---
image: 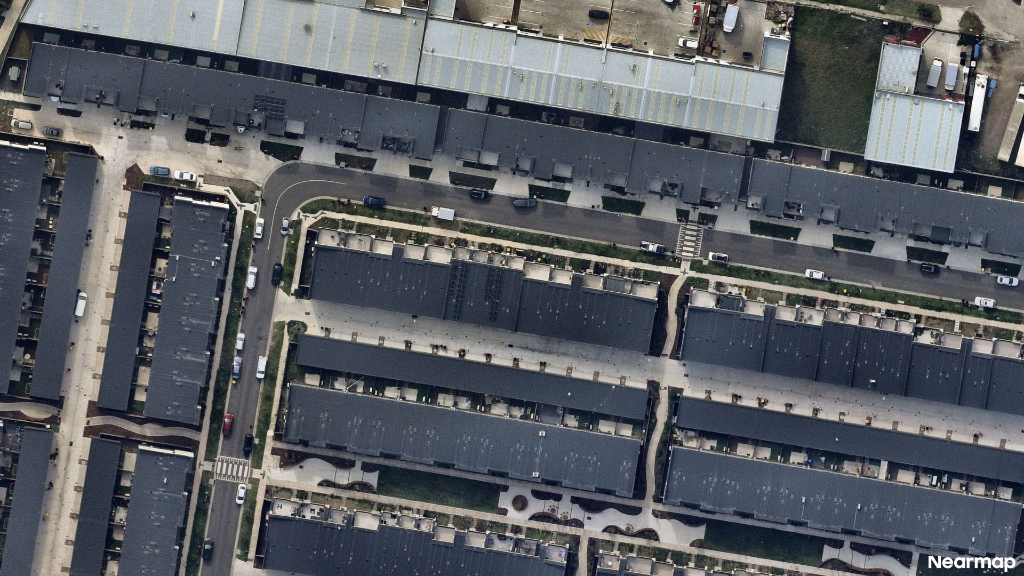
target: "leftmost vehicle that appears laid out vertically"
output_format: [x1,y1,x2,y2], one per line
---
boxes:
[75,292,87,318]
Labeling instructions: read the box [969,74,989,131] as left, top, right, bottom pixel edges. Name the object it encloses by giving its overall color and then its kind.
white trailer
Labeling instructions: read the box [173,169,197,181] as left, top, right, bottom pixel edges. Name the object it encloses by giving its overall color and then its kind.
white vehicle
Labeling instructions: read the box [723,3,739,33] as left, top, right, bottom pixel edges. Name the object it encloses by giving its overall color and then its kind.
white vehicle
